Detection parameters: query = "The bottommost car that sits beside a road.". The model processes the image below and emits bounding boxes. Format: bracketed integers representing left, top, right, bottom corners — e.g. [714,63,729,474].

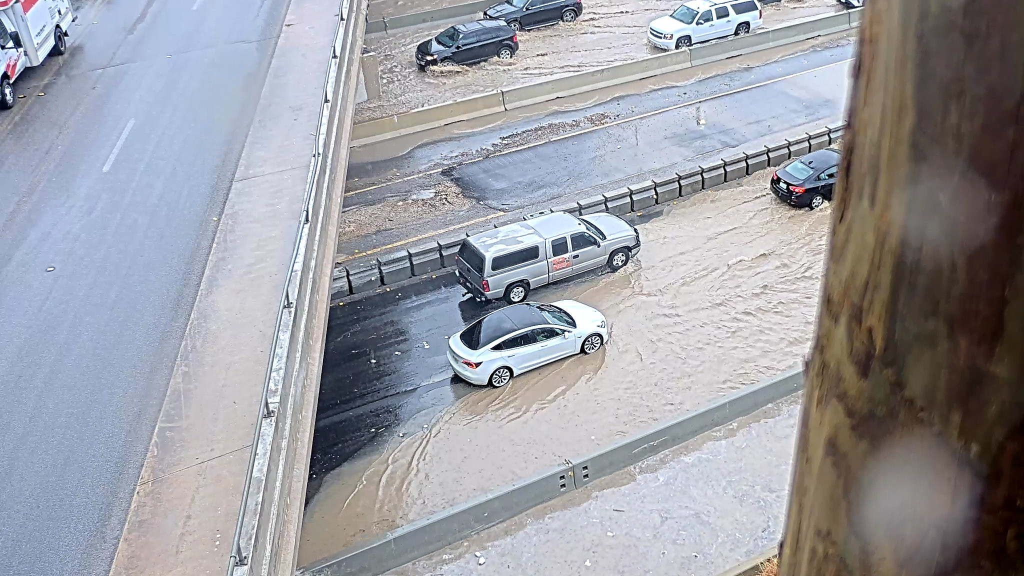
[445,292,611,388]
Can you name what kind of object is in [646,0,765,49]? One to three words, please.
car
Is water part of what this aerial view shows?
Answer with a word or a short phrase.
Yes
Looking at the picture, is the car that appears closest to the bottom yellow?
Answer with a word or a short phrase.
No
